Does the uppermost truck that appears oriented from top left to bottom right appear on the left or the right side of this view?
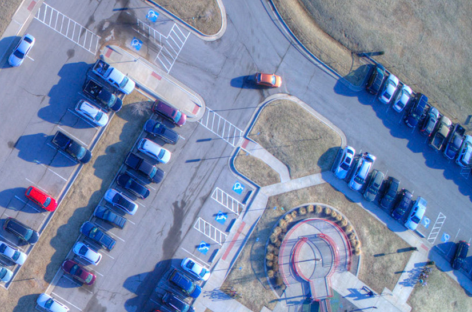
left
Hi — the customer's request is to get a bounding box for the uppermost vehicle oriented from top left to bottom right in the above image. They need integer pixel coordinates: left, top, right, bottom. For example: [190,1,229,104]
[91,59,135,94]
